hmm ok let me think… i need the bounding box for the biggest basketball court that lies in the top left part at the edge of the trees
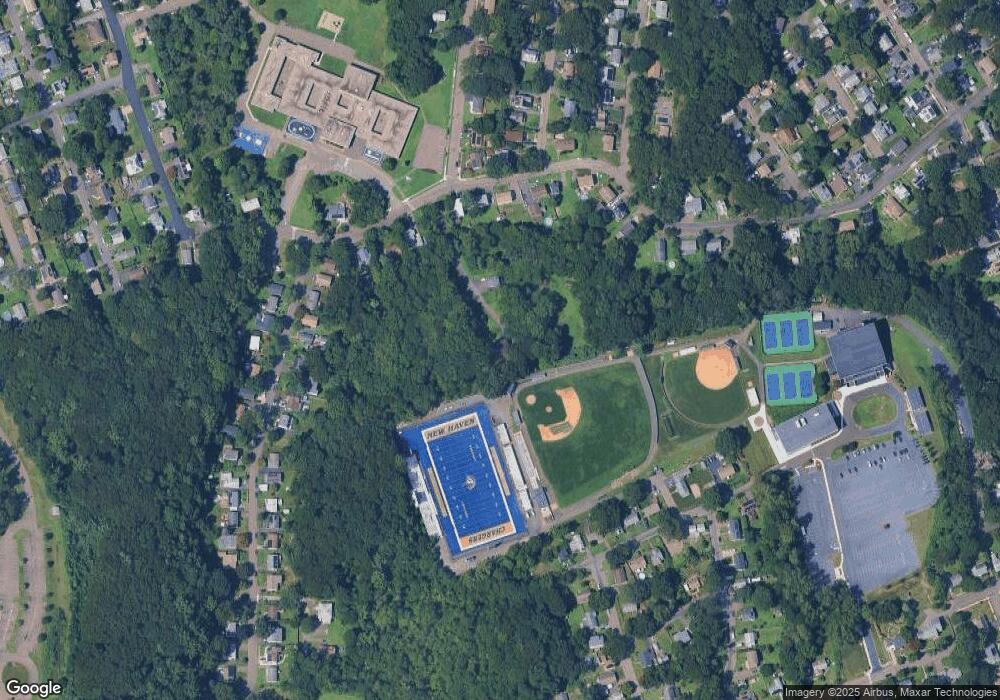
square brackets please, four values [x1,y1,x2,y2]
[231,125,270,155]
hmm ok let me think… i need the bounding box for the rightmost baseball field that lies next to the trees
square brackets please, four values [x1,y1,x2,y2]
[662,347,751,427]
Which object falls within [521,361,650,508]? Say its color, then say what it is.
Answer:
green baseball field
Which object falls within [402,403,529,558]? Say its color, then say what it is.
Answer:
blue sports field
